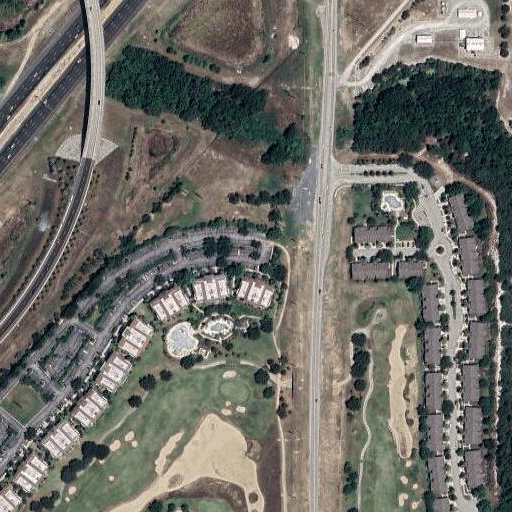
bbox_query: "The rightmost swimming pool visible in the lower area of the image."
[206,319,232,336]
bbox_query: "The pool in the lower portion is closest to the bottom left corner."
[166,321,199,359]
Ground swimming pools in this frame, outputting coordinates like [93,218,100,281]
[206,319,232,336]
[381,192,405,211]
[166,321,199,359]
